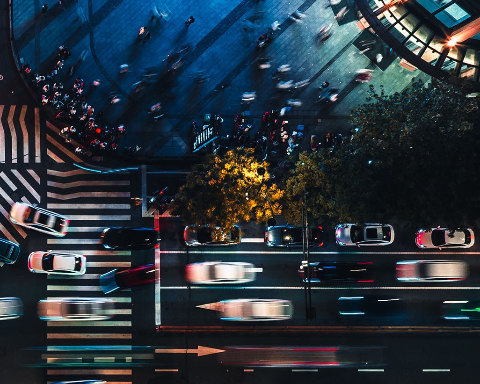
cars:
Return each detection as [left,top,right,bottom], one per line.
[333,221,396,248]
[46,295,106,322]
[190,259,251,286]
[185,226,241,248]
[0,238,21,263]
[27,248,87,276]
[99,261,164,294]
[341,293,399,320]
[414,226,475,251]
[225,295,286,324]
[100,223,162,252]
[265,222,325,250]
[0,297,14,320]
[9,202,71,235]
[304,258,368,286]
[400,256,464,285]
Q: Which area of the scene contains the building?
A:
top right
